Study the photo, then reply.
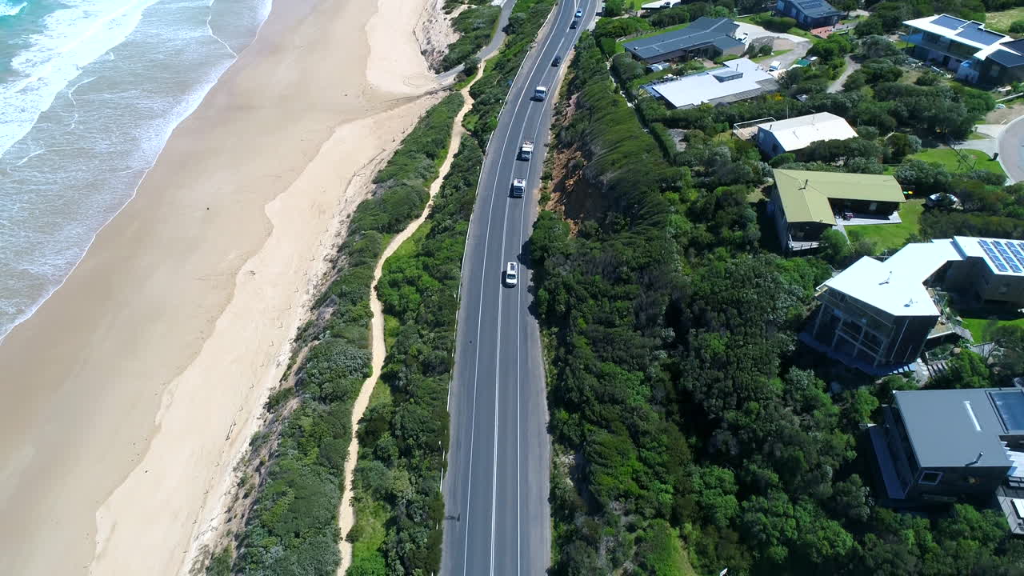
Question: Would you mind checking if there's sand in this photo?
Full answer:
Yes, there's sand in this view.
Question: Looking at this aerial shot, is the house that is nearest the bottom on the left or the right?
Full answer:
You can find the house that is nearest the bottom on the right side of the picture.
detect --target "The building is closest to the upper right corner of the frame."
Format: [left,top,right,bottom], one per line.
[903,14,1024,90]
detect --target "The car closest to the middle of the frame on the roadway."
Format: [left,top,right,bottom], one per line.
[505,262,518,284]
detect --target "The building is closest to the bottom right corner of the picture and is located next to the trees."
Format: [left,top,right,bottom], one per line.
[859,385,1024,537]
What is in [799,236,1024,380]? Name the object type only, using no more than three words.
house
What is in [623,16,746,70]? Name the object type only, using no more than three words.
house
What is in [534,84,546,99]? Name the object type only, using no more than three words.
vehicle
